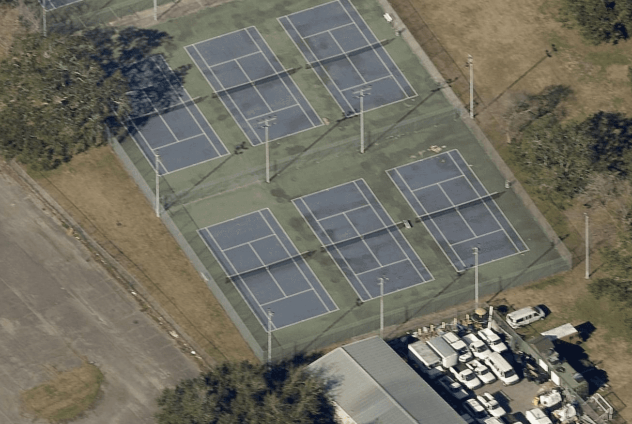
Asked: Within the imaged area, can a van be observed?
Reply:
Yes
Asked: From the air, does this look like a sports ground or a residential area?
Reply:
sports ground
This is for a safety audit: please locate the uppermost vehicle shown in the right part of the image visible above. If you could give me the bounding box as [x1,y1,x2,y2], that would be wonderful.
[500,305,550,331]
